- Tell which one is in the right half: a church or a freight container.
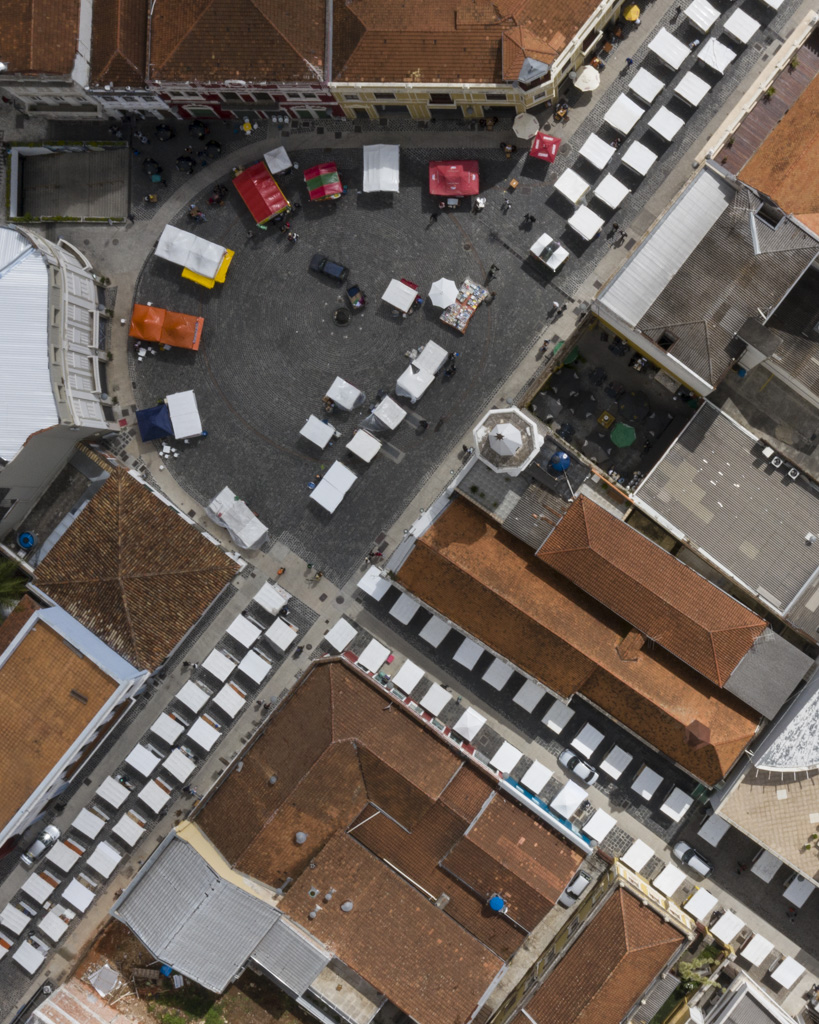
church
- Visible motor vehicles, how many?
5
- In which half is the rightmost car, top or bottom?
bottom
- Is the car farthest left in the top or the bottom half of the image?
bottom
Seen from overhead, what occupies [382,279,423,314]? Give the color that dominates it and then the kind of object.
white tent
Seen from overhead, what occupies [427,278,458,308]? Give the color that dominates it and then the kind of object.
white umbrella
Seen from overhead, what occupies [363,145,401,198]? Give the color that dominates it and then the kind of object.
white tent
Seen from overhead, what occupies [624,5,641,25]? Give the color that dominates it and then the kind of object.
yellow umbrella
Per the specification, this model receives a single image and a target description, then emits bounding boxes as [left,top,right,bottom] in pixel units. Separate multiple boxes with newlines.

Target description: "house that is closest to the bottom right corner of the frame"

[679,957,801,1024]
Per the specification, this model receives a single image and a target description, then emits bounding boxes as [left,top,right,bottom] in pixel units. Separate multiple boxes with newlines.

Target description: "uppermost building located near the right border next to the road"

[680,2,819,241]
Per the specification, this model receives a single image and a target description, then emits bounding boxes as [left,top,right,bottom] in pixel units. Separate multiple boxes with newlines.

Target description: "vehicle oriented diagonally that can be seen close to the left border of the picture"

[20,821,65,869]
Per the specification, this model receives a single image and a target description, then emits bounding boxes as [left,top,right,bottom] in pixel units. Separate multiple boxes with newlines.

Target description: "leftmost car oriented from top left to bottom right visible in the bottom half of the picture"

[554,745,602,786]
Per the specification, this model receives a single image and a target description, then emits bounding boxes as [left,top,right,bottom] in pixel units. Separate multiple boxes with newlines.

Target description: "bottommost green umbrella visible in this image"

[611,423,635,447]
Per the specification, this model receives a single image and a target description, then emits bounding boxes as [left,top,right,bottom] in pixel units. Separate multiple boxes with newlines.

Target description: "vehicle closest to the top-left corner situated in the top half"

[308,255,349,283]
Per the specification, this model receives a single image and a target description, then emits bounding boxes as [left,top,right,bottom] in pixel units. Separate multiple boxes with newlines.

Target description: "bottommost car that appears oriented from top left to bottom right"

[668,837,715,877]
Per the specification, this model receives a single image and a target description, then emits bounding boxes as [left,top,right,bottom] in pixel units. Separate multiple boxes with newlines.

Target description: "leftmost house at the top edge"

[0,0,118,121]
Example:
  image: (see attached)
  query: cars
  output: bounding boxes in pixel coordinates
[558,864,595,907]
[20,821,65,869]
[554,745,602,786]
[668,837,715,877]
[308,255,349,283]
